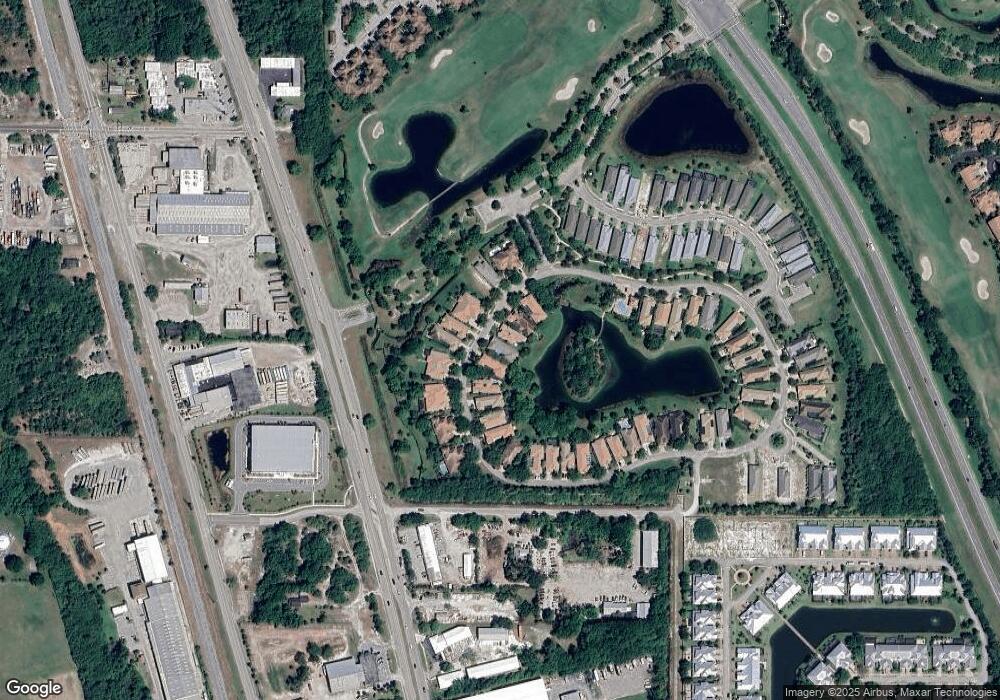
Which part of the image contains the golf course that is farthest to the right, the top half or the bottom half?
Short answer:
top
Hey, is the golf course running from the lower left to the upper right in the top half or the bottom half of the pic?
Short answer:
top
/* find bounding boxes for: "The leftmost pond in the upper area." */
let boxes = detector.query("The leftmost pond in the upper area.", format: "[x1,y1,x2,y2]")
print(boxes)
[369,110,549,217]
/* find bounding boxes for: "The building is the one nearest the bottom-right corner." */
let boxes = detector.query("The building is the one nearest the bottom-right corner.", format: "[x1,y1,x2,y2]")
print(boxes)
[933,640,977,670]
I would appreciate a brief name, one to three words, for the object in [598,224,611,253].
house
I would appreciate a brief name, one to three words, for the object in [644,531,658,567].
building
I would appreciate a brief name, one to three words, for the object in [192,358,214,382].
building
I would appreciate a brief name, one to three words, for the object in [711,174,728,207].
house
